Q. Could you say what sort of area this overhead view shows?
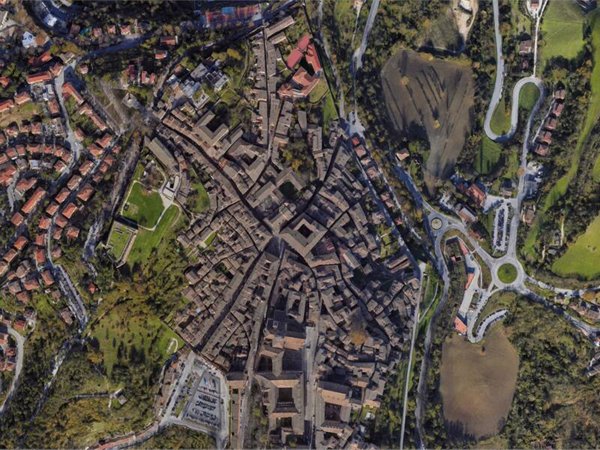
residential area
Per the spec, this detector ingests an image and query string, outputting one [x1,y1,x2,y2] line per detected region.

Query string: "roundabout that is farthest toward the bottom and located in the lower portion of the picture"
[492,257,524,289]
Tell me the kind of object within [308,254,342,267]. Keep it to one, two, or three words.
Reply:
house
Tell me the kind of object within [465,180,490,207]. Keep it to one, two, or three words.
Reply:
house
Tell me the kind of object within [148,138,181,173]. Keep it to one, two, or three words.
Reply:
building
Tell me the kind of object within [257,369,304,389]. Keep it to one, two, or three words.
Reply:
building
